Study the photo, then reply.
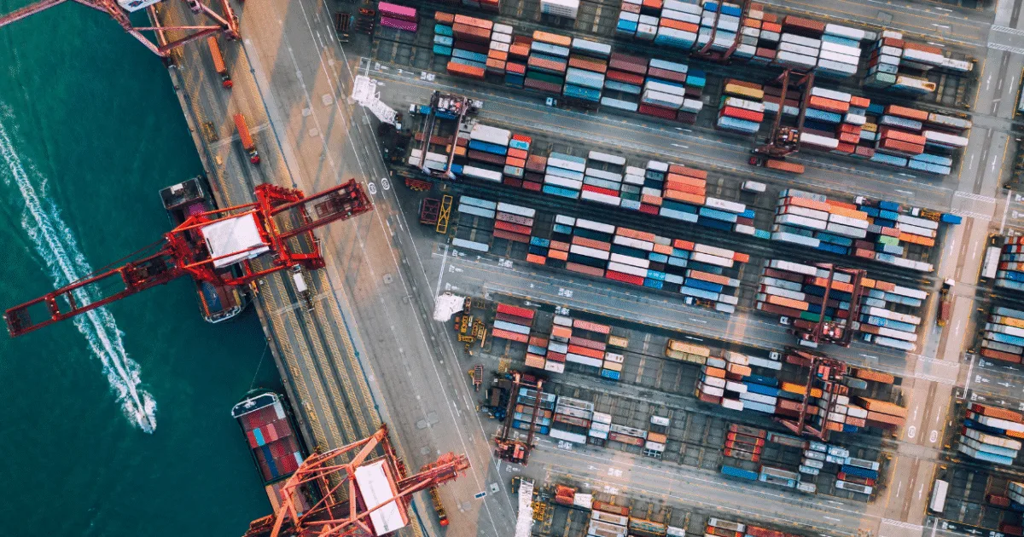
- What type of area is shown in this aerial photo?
port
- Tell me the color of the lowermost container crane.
red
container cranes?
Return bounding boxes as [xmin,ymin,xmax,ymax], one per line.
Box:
[416,87,474,184]
[788,258,864,346]
[225,420,471,537]
[493,367,550,466]
[768,346,847,439]
[0,0,244,58]
[745,63,818,158]
[689,0,752,66]
[4,179,376,337]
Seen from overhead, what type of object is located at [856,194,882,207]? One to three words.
vehicle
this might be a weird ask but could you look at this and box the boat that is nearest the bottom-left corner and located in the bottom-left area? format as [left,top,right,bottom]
[138,412,152,434]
